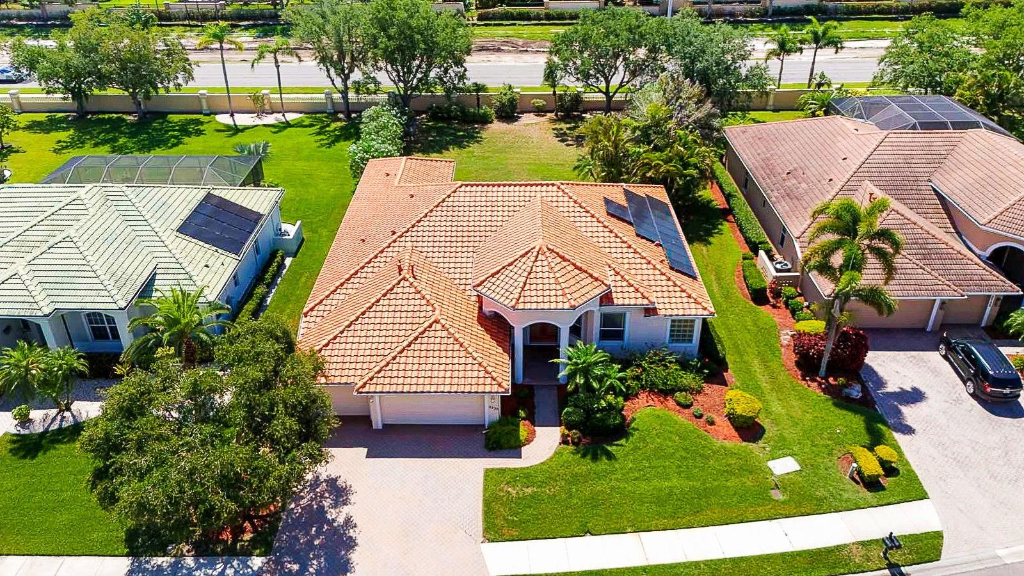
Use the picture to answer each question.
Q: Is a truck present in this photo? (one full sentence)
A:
No, no truck is visible in the view.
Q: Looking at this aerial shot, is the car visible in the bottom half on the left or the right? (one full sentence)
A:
You can find the car visible in the bottom half on the right side of the picture.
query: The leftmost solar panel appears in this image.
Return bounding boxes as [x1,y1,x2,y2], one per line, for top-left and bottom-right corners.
[177,193,265,256]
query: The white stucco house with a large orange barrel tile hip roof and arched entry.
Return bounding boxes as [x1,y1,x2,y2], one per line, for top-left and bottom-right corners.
[280,154,718,424]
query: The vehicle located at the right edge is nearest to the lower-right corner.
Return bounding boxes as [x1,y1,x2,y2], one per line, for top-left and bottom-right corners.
[936,326,1024,395]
